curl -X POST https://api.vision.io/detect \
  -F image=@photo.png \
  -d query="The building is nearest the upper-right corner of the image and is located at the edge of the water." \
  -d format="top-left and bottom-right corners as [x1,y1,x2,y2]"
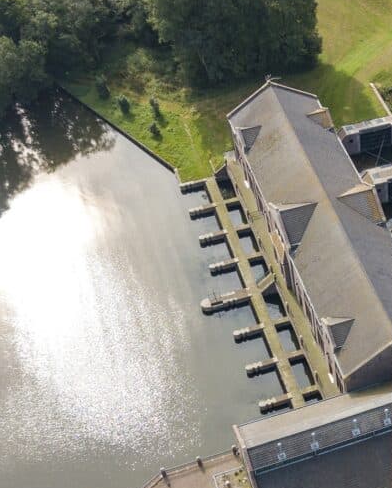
[225,70,392,394]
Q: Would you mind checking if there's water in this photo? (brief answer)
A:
Yes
